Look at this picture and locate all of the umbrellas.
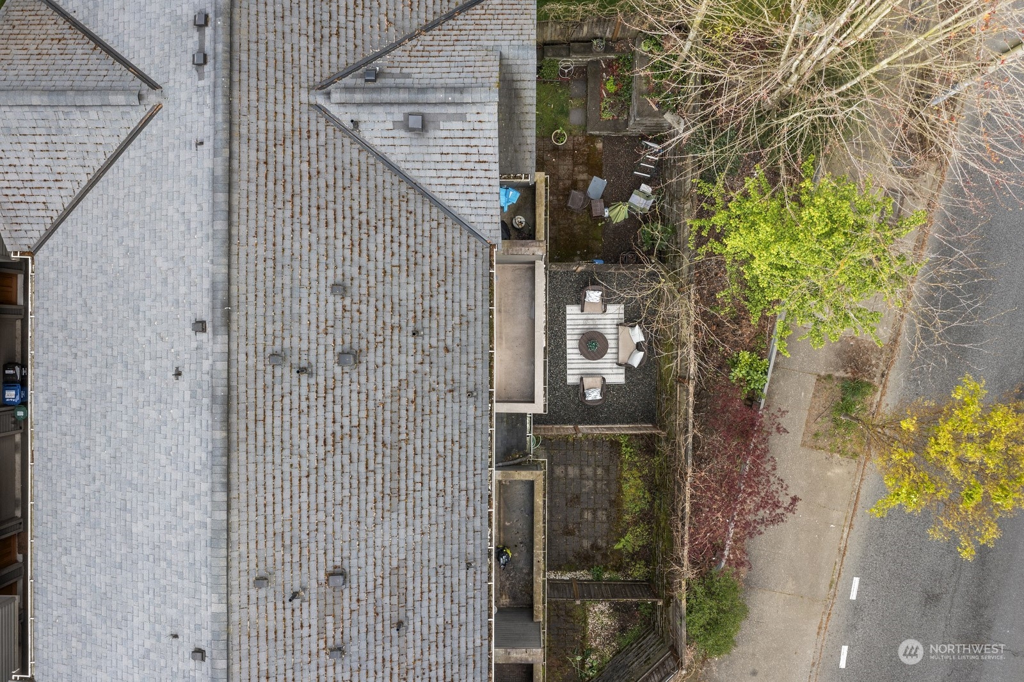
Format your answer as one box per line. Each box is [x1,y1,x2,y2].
[604,202,626,223]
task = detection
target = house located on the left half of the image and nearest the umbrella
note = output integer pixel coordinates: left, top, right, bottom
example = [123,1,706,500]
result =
[0,0,548,682]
